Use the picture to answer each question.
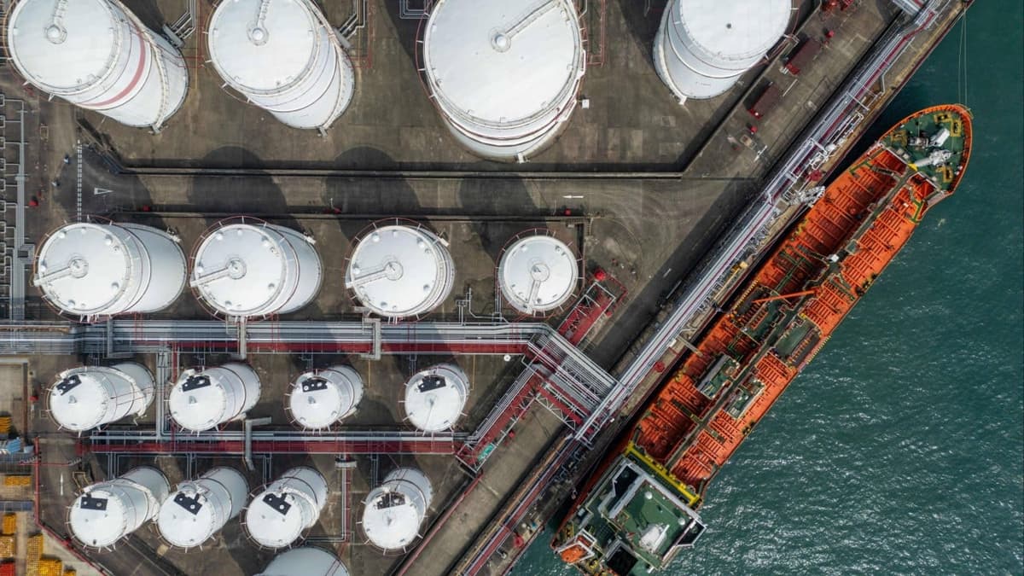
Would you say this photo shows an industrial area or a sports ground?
industrial area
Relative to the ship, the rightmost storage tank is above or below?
above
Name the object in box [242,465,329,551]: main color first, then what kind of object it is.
white storage tank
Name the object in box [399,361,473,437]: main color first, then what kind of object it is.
white storage tank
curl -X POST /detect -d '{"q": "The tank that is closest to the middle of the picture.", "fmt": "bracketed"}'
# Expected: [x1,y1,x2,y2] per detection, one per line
[491,226,585,320]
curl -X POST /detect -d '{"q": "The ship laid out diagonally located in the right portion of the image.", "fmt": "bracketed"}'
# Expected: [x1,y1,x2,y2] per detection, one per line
[551,100,972,576]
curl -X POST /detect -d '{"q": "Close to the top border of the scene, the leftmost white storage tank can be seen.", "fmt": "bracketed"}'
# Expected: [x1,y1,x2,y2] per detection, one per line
[3,0,190,133]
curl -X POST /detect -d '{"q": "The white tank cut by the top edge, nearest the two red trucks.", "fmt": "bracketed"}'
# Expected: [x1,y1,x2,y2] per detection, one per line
[651,0,798,101]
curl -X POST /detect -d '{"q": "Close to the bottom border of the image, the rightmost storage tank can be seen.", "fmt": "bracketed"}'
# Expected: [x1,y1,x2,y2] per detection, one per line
[357,461,433,553]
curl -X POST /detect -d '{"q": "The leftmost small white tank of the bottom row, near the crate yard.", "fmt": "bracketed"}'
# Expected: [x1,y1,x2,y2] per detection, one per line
[64,465,173,551]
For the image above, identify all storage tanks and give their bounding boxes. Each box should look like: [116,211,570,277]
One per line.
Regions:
[399,361,473,437]
[165,362,263,436]
[357,461,433,553]
[203,0,355,135]
[242,465,329,551]
[285,364,368,435]
[254,547,346,576]
[651,0,798,101]
[28,215,187,322]
[491,226,585,320]
[41,362,156,435]
[417,0,589,165]
[344,217,454,325]
[185,216,323,324]
[64,465,173,551]
[154,461,250,551]
[3,0,190,133]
